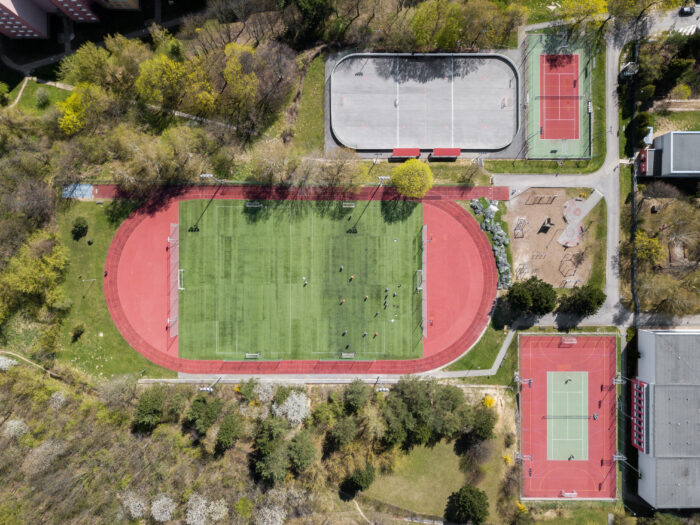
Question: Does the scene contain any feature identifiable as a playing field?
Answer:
Yes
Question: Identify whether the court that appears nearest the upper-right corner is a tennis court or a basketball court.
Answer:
tennis court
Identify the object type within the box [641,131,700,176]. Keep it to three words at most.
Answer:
building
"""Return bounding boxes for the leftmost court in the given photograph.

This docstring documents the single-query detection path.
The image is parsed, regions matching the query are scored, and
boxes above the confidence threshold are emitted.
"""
[331,52,521,152]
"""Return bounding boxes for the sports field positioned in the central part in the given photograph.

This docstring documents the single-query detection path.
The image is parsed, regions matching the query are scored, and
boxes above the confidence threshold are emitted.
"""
[178,200,423,360]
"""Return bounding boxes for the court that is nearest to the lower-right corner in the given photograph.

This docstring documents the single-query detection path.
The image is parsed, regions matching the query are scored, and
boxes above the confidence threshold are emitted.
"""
[517,334,618,501]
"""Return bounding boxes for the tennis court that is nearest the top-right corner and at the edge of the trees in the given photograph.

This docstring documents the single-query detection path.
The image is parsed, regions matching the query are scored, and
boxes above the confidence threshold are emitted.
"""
[528,33,591,158]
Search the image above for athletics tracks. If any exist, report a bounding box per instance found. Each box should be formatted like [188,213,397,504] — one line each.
[93,184,509,376]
